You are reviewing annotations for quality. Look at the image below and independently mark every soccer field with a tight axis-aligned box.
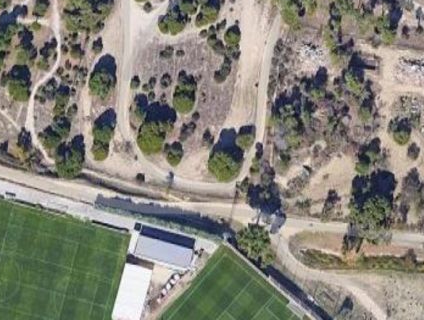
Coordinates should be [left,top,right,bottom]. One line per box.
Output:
[168,243,318,320]
[0,203,130,320]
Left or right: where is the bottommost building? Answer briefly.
left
